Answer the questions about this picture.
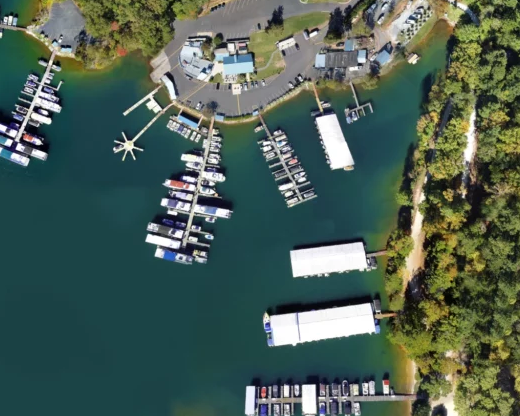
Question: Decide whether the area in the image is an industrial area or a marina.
marina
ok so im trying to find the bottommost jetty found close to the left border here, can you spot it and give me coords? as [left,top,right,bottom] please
[11,52,62,142]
